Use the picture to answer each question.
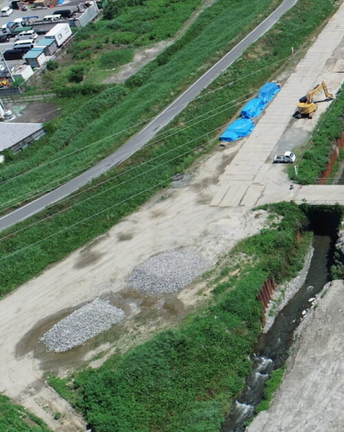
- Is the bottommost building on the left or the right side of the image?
left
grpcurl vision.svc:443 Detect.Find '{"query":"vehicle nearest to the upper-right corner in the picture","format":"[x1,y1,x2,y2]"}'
[289,71,335,119]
